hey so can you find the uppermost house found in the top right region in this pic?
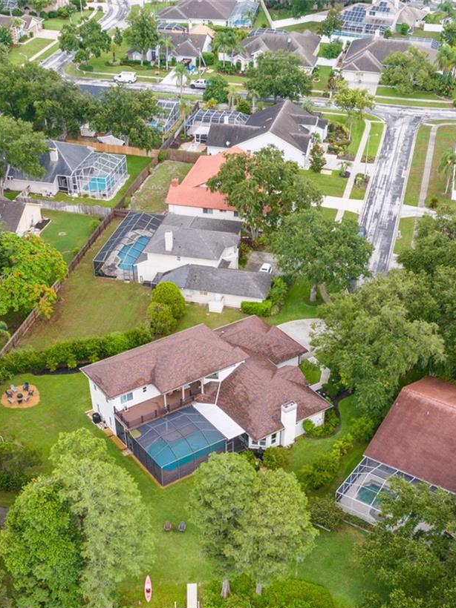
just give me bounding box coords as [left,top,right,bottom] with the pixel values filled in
[340,0,427,36]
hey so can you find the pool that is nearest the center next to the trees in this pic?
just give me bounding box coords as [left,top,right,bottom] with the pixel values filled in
[93,231,152,282]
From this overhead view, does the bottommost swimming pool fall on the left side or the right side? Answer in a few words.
right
